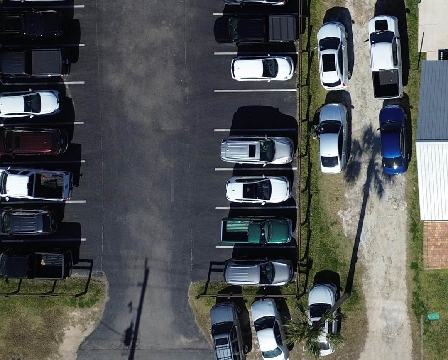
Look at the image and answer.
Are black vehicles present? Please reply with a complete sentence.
Yes, the picture does show a black vehicle.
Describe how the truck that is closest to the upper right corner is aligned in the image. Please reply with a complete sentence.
What the image shows is the truck that is closest to the upper right corner lying up and down.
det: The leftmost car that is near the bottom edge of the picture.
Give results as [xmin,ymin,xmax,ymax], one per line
[208,300,248,360]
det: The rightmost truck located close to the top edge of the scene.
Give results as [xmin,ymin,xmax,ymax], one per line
[366,14,405,100]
